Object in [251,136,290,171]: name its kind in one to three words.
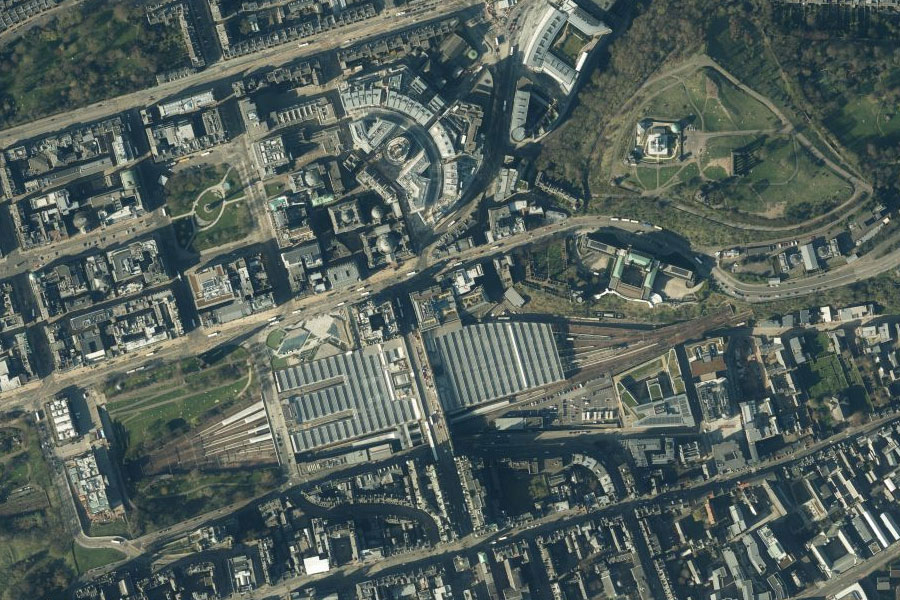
building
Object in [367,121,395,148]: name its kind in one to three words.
building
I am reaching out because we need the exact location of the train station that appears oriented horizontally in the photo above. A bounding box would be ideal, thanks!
[166,316,657,470]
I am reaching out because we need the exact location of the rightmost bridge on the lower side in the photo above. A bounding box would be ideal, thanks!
[407,325,453,452]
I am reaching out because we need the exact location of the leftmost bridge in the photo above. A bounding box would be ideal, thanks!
[261,383,292,473]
